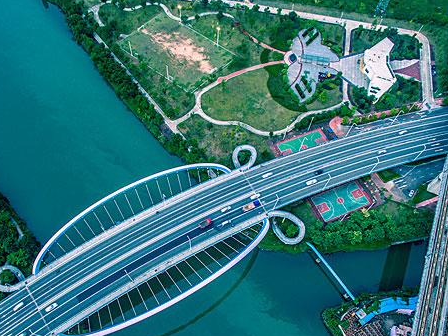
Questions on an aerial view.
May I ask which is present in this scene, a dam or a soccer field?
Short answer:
soccer field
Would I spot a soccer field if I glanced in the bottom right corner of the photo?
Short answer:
No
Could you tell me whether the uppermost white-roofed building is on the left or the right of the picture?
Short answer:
right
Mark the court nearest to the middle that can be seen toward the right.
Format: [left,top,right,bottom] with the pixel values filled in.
[270,125,330,158]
